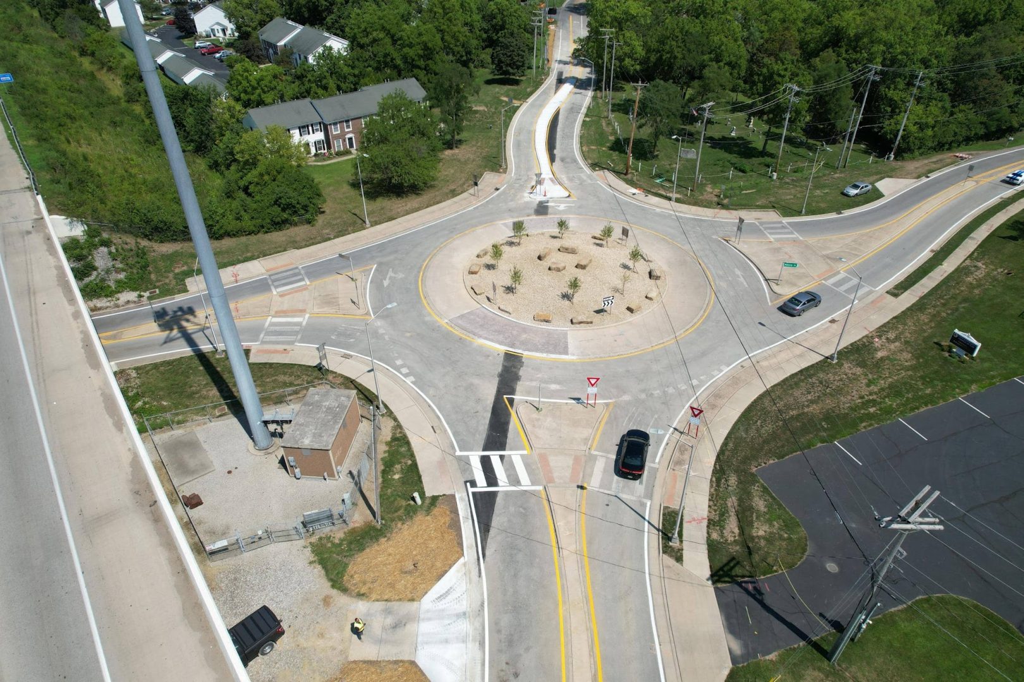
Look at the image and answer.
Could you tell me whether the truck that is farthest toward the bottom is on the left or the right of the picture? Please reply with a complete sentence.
It is on the left.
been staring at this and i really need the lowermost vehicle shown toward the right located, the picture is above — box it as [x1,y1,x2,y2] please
[615,424,653,483]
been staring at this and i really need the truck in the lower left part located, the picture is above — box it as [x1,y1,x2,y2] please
[229,603,290,670]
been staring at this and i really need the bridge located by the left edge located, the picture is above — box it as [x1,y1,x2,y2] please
[0,195,252,682]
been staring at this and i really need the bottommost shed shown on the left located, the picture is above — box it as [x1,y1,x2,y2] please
[278,392,356,480]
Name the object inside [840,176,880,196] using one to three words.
car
